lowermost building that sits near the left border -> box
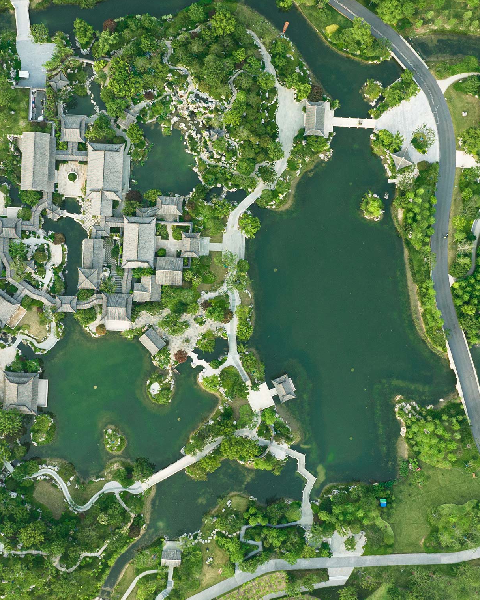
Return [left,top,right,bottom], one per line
[1,369,43,416]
